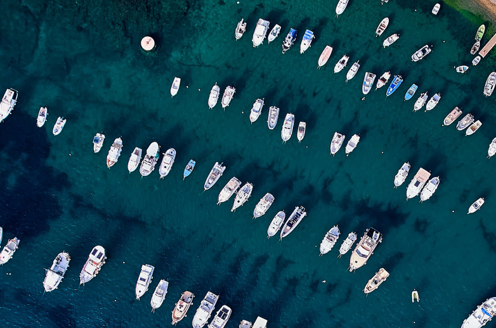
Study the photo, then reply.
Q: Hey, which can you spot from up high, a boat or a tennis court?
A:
boat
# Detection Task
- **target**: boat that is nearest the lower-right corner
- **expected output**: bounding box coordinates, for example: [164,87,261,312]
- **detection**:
[462,296,496,328]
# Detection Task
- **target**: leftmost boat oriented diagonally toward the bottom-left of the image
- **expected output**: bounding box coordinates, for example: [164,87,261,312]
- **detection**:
[0,235,23,265]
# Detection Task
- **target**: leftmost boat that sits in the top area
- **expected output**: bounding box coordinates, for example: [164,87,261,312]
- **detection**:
[0,87,20,121]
